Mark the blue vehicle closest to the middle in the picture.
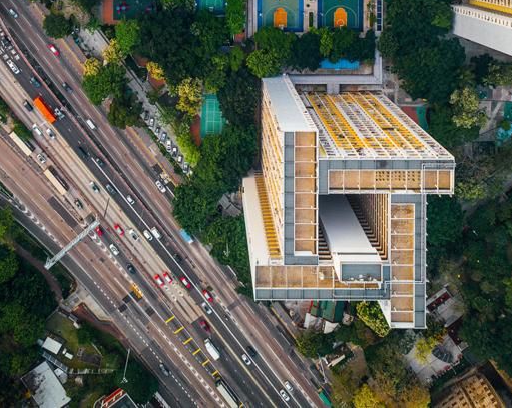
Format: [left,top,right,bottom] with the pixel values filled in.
[178,225,195,244]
